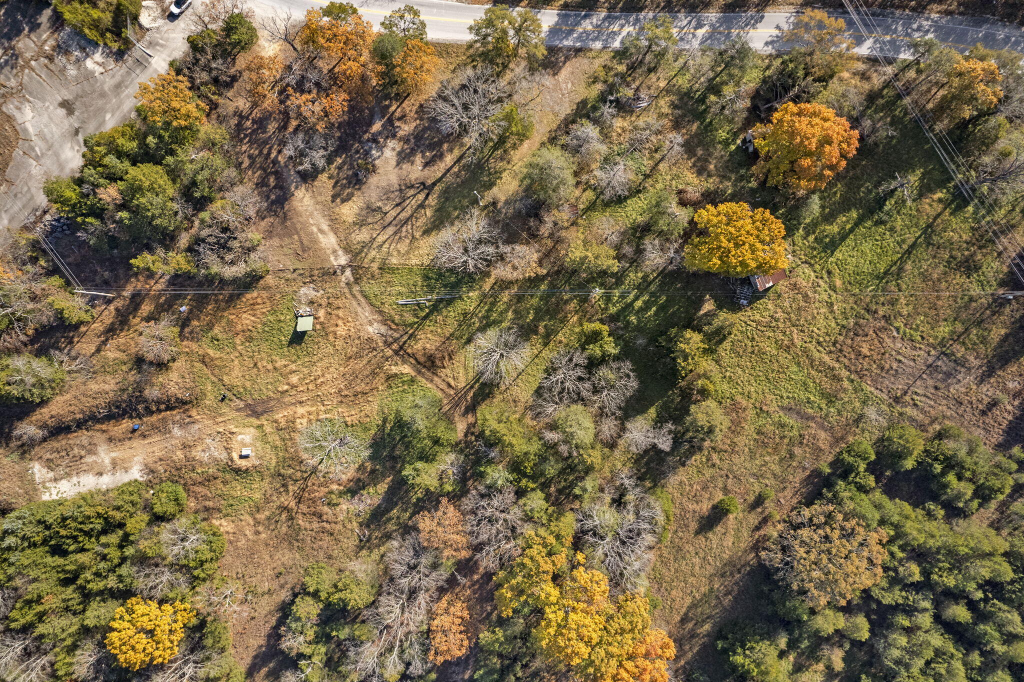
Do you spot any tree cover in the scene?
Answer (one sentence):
Yes, some tree cover is visible.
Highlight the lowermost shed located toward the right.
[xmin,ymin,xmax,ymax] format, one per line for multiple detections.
[746,266,787,293]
